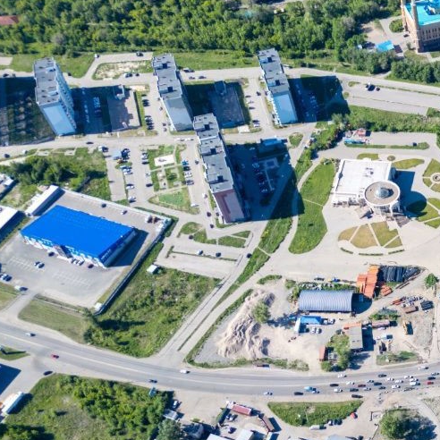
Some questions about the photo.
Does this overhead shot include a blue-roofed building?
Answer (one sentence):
Yes, this view includes a blue-roofed building.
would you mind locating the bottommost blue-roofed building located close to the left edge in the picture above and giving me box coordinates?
[20,205,137,268]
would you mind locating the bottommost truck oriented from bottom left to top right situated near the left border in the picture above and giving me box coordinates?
[0,393,28,414]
